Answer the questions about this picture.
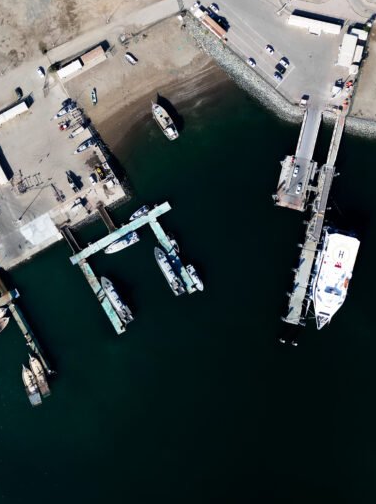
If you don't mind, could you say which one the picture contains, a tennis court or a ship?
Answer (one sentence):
Looking from above, you can make out a ship.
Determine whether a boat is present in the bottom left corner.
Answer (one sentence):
Yes, looking in the bottom left corner, one can make out a boat.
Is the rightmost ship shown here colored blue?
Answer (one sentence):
No, the rightmost ship is actually white.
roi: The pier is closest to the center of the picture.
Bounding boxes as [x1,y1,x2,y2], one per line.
[60,202,196,334]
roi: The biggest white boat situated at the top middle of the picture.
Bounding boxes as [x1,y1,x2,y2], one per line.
[151,95,179,142]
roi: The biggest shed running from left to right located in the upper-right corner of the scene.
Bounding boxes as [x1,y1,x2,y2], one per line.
[286,15,341,36]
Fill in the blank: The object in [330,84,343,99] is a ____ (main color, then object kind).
white vehicle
